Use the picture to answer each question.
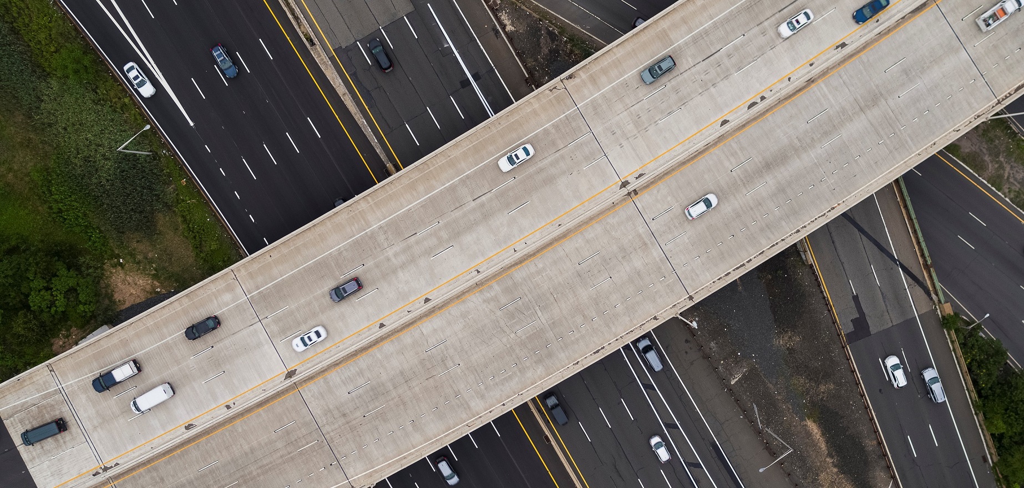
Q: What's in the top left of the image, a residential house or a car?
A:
car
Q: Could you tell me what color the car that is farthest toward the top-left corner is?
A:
white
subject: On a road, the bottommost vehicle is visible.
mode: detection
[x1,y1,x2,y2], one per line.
[434,454,460,487]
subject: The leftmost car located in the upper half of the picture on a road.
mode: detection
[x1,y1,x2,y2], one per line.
[123,62,156,99]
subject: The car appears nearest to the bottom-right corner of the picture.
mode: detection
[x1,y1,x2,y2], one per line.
[921,368,947,404]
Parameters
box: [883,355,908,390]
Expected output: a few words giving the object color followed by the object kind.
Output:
white car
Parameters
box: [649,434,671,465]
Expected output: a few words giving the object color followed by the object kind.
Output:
white car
